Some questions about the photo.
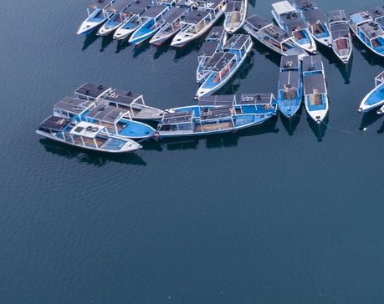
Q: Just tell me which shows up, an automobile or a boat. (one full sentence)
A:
This aerial view contains a boat.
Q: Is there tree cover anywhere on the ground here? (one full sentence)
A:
No, no tree cover is visible.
